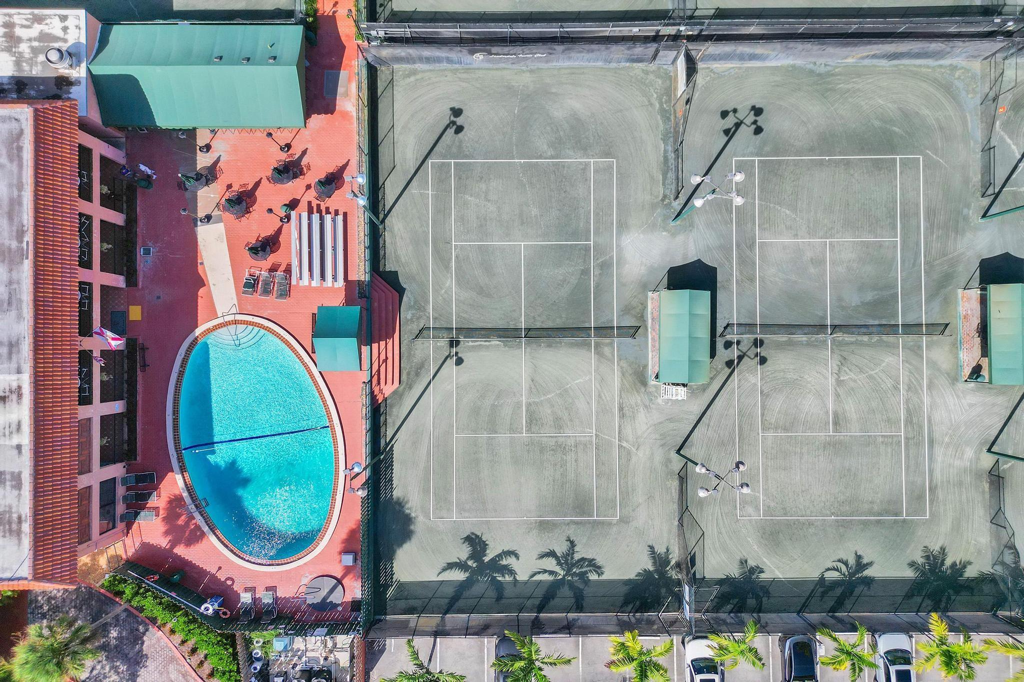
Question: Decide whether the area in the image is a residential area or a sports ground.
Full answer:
It's a sports ground.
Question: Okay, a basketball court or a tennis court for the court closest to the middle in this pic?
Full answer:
It looks like the court closest to the middle is a tennis court.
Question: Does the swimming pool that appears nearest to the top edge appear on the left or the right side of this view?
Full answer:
The swimming pool that appears nearest to the top edge appears in the left half of the scene.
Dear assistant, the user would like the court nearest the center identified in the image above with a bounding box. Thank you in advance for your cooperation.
[371,65,673,616]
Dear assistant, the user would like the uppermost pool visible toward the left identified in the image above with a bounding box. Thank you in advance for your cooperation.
[167,314,344,570]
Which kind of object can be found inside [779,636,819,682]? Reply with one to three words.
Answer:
car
